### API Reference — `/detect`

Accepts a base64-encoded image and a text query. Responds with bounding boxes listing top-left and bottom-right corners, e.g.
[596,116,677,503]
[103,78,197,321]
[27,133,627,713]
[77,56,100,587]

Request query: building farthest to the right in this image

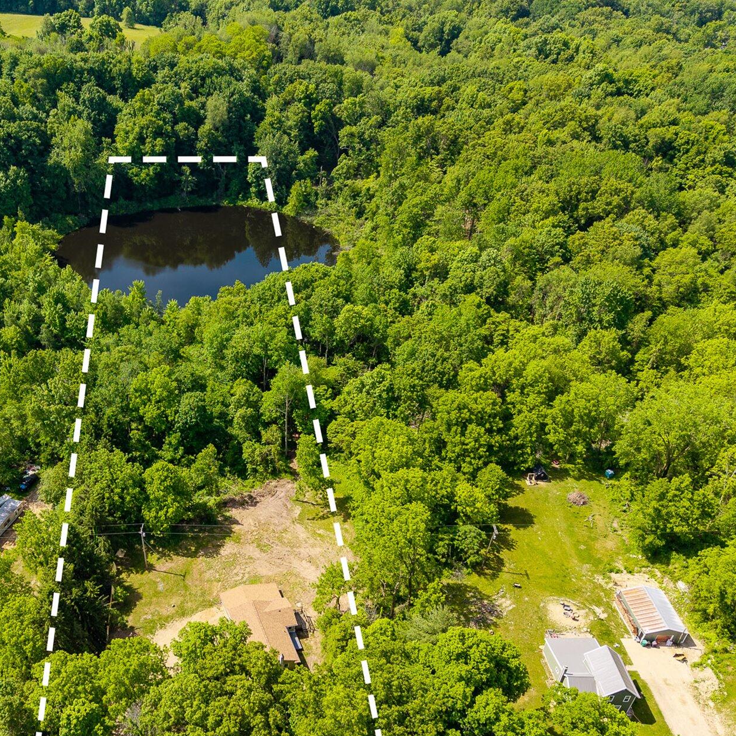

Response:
[619,585,686,645]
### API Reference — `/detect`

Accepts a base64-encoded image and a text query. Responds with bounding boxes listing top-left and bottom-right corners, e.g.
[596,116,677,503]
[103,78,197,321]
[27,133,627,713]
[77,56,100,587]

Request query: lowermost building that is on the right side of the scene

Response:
[542,638,641,717]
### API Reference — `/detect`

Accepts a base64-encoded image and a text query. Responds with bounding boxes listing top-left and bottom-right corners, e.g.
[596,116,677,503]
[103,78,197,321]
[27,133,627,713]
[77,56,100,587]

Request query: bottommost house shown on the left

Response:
[219,582,305,678]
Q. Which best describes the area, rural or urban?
rural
